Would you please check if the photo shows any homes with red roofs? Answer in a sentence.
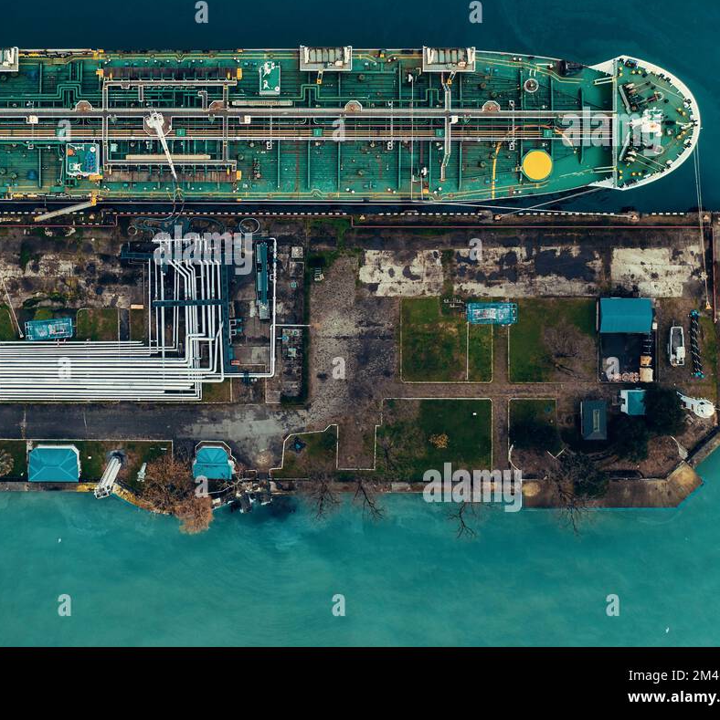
No, there appears to be no home with a red roof in this shot.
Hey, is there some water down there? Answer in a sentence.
Yes, water can be seen from above here.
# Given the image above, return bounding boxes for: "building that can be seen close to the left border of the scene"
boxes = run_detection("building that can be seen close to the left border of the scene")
[29,445,81,481]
